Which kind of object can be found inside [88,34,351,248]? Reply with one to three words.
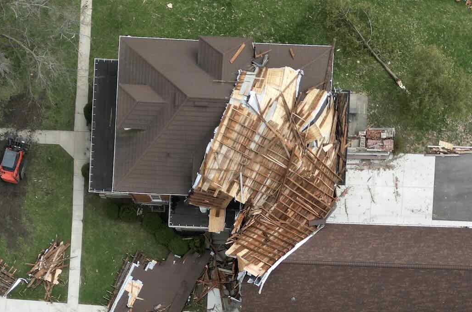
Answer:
house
